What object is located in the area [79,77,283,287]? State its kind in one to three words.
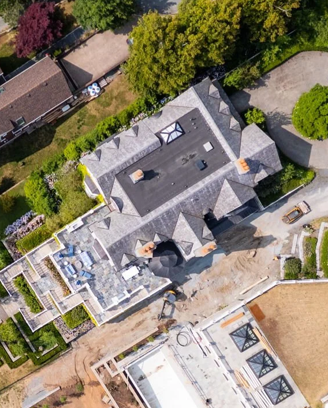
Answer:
house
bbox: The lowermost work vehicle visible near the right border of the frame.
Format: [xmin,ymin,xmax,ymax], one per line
[283,200,313,224]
